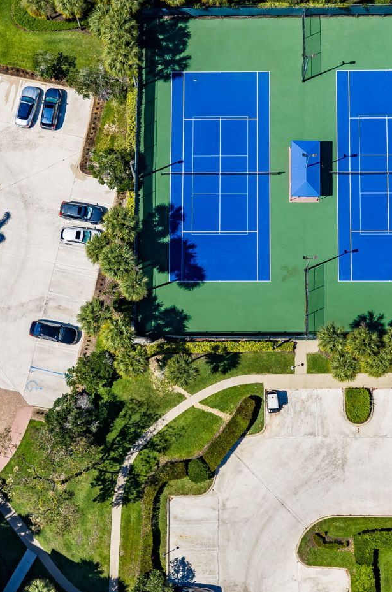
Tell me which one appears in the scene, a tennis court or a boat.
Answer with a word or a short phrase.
tennis court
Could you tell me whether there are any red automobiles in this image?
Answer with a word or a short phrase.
No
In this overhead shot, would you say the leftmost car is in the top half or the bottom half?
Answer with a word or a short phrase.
top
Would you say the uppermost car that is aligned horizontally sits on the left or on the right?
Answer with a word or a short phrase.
left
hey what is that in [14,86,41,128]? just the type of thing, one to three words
car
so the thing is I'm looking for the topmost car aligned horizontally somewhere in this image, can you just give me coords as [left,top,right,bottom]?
[57,200,104,226]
